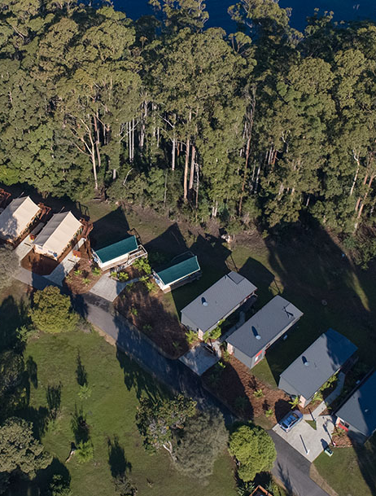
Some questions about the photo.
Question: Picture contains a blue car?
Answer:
Yes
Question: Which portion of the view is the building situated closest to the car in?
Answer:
bottom right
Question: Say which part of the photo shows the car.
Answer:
bottom right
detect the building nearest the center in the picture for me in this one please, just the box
[151,255,211,300]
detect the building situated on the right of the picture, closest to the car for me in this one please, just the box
[279,328,358,410]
